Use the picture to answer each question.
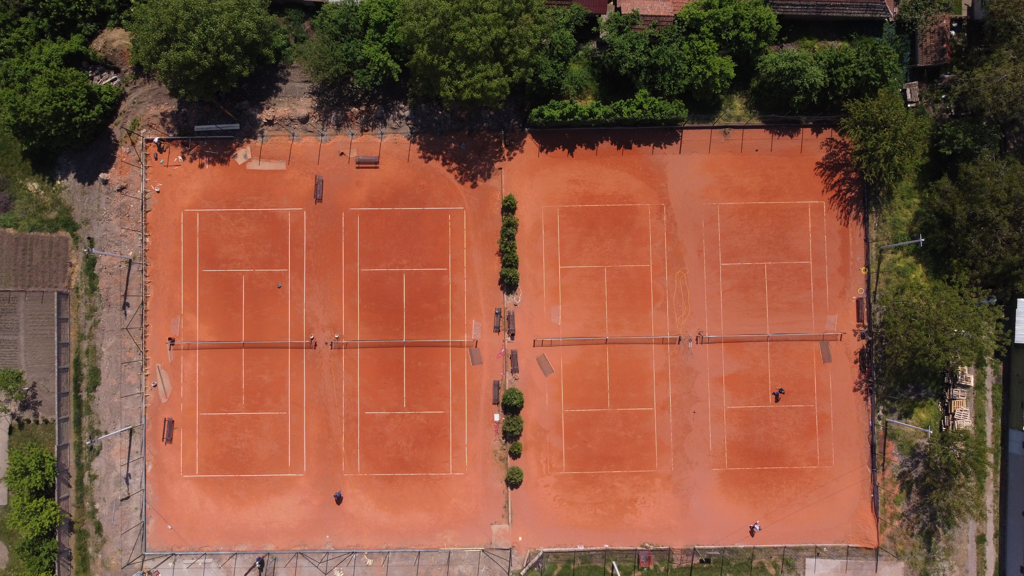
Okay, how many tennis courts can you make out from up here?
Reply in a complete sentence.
I count 4 tennis courts.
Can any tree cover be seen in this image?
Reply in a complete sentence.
Yes, there is tree cover in the image.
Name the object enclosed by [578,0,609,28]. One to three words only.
house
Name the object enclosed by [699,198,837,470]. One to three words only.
tennis court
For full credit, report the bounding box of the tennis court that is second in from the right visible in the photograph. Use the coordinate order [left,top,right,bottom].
[539,202,676,477]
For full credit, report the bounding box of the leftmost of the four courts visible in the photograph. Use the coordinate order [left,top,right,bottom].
[178,207,309,479]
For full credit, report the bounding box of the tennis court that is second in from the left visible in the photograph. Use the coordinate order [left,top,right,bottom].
[340,206,470,475]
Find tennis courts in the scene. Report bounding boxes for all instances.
[178,207,309,479]
[699,198,837,470]
[340,206,470,475]
[539,202,676,477]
